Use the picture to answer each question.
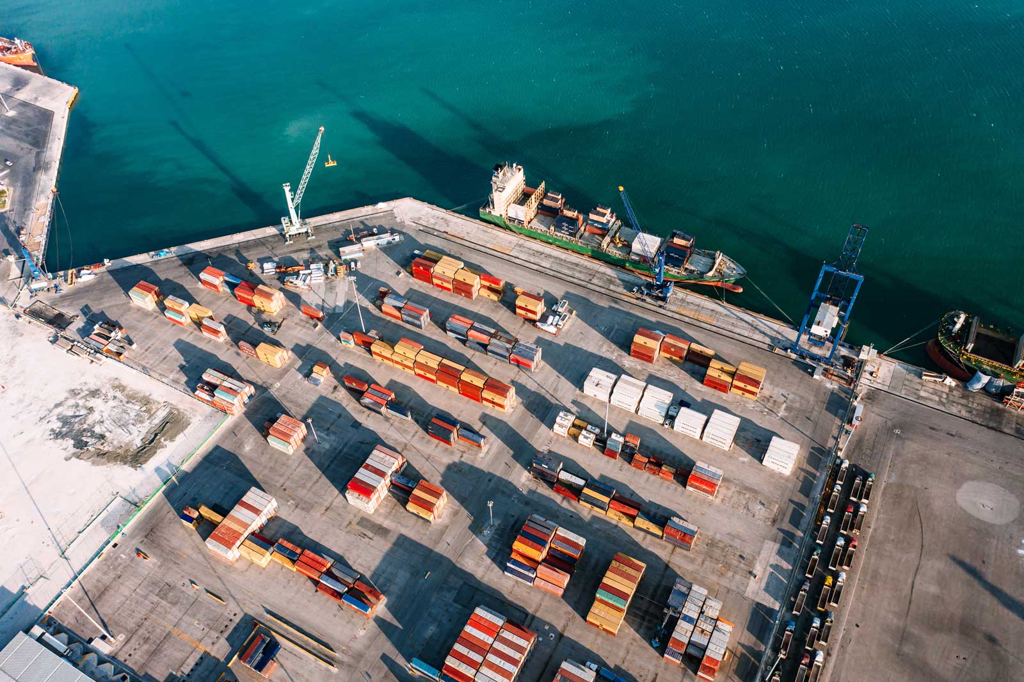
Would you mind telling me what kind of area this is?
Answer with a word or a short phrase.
port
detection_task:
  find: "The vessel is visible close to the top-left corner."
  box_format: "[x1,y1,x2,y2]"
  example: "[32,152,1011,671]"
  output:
[0,39,42,67]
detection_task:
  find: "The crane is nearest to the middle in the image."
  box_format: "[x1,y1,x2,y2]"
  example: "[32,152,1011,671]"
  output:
[617,186,677,310]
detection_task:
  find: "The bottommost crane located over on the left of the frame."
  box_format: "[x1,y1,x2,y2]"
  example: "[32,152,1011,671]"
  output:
[0,247,66,297]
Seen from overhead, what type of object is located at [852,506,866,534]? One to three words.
vehicle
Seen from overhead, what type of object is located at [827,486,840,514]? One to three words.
vehicle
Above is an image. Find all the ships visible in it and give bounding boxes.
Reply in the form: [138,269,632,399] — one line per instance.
[922,304,1024,396]
[0,39,42,67]
[482,161,746,293]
